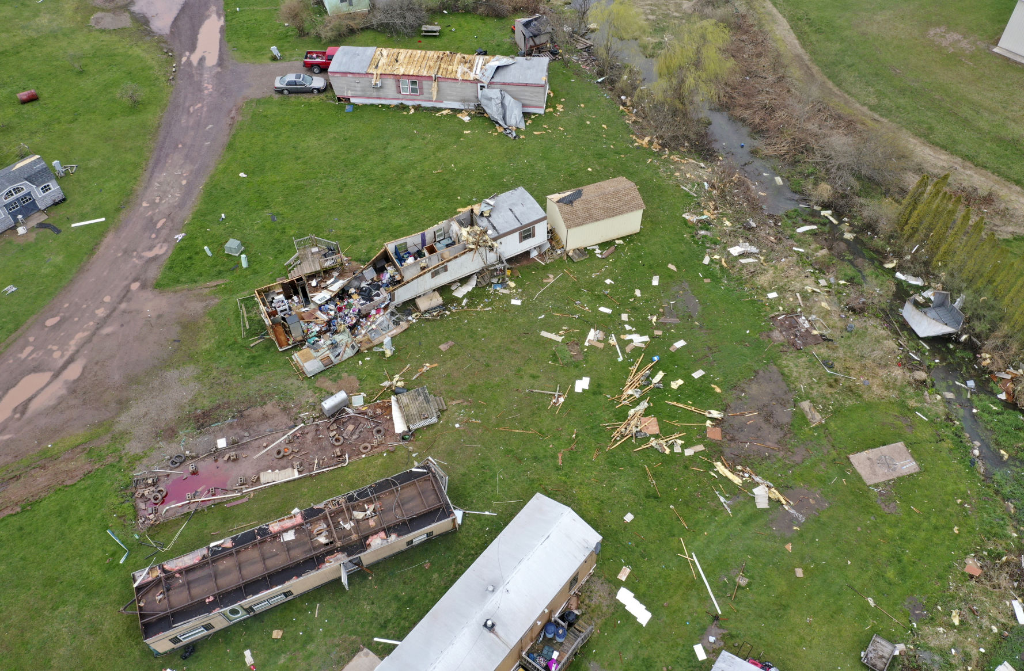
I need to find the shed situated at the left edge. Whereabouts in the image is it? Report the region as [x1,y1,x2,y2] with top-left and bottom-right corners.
[0,154,66,232]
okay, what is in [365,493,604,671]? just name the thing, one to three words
house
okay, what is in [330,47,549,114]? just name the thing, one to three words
house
